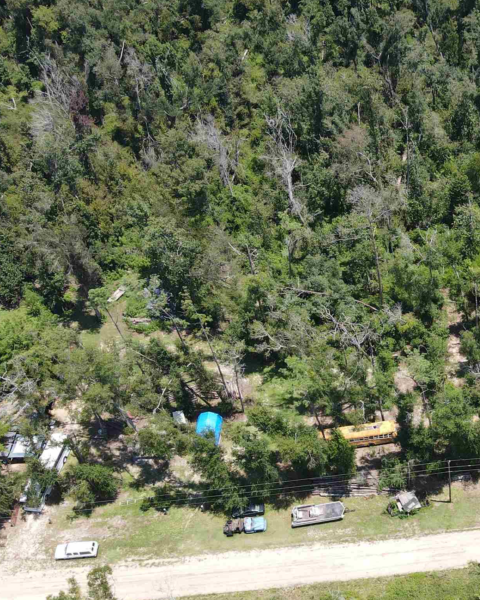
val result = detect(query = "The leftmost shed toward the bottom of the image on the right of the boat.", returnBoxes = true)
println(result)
[389,490,425,521]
